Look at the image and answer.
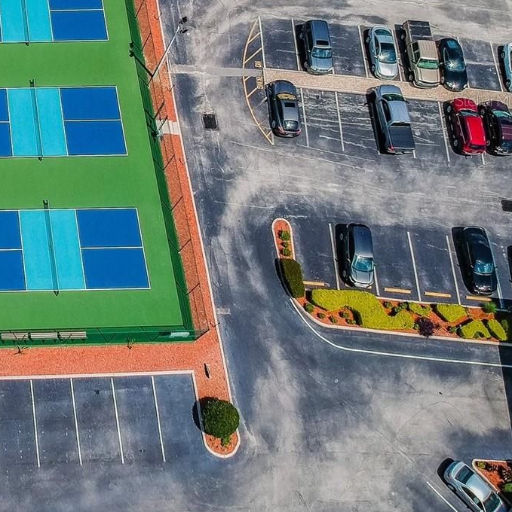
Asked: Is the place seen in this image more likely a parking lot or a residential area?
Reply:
parking lot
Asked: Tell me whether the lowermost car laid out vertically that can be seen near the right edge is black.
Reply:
Yes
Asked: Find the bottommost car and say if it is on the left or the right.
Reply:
right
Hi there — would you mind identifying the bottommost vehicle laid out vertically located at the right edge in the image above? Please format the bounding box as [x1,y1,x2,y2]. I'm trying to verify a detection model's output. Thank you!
[459,227,501,295]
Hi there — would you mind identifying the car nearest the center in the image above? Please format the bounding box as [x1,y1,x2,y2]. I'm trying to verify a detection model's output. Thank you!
[343,224,381,287]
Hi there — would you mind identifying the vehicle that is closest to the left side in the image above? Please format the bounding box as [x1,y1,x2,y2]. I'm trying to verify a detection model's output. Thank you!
[268,80,300,138]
